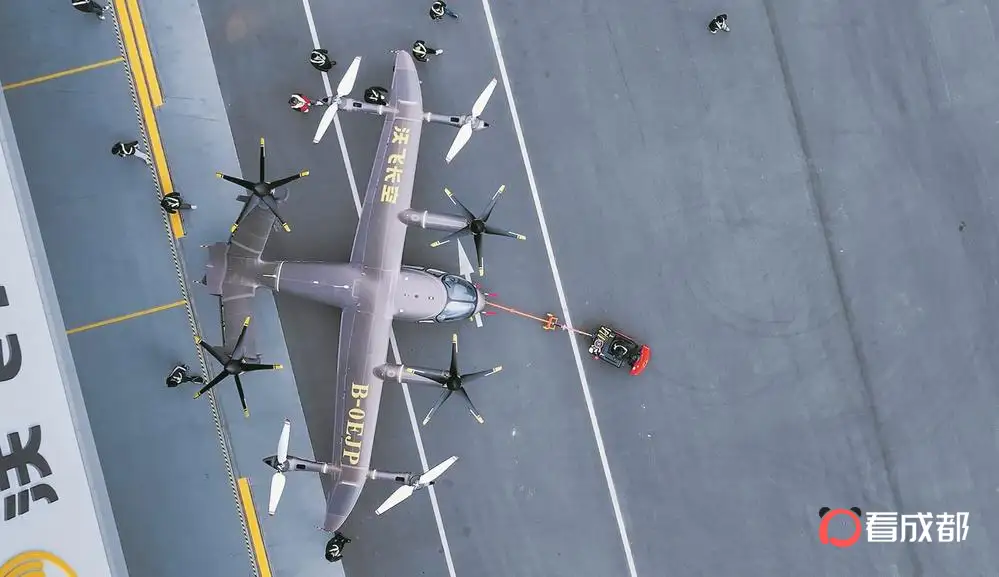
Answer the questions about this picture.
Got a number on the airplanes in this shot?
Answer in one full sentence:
The picture shows 1 airplane.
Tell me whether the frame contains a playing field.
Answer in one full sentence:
No, I can see no playing field in this picture.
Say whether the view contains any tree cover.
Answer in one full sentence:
No, tree cover can't be seen anywhere here.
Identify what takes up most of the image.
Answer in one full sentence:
What you mostly see from above here is paved ground.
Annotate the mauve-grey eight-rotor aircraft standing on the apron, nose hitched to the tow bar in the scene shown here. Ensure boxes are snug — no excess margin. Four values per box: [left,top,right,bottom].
[190,48,524,529]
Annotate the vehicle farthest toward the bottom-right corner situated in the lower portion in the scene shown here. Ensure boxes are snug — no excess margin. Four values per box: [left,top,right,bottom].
[589,325,644,374]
